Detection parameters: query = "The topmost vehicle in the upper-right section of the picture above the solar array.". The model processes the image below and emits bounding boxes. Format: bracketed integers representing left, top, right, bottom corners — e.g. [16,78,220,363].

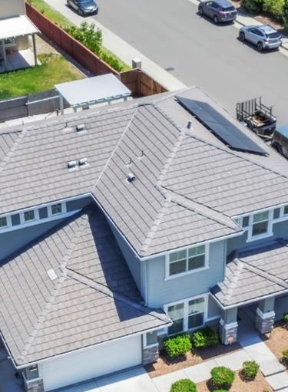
[198,0,238,23]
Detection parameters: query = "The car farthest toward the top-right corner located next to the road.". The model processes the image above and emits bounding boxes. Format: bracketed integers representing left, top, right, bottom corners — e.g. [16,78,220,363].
[238,19,286,51]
